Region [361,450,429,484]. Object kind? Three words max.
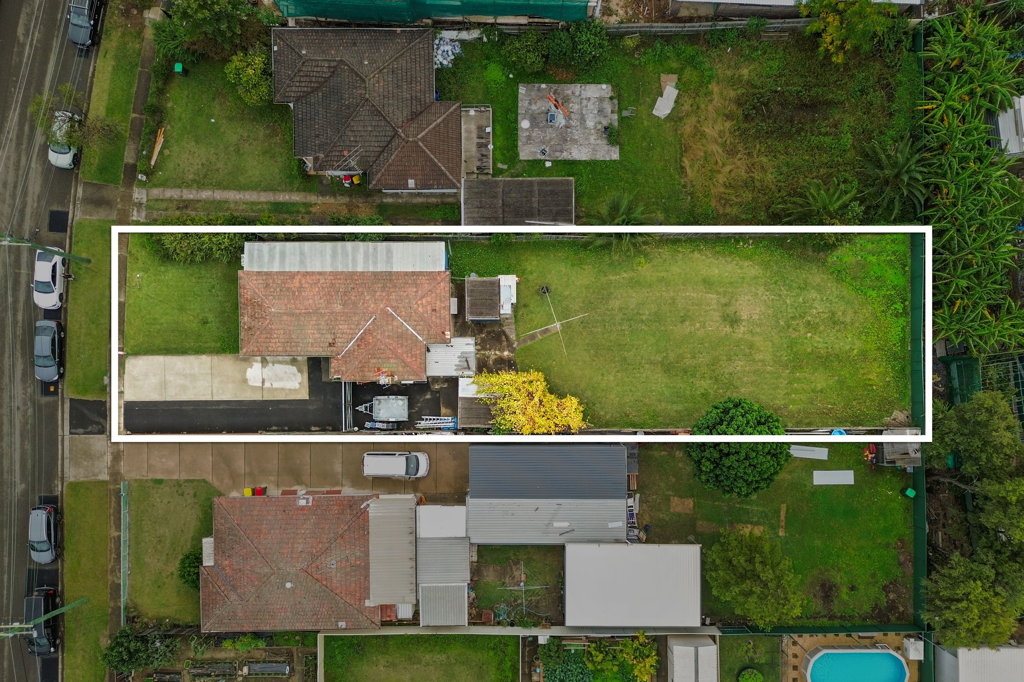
van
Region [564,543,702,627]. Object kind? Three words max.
shed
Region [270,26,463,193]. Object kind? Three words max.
house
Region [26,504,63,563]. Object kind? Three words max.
car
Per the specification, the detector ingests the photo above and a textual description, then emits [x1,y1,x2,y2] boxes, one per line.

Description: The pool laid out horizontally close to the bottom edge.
[791,634,911,682]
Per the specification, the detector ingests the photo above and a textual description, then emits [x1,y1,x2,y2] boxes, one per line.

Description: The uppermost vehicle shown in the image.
[59,0,101,51]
